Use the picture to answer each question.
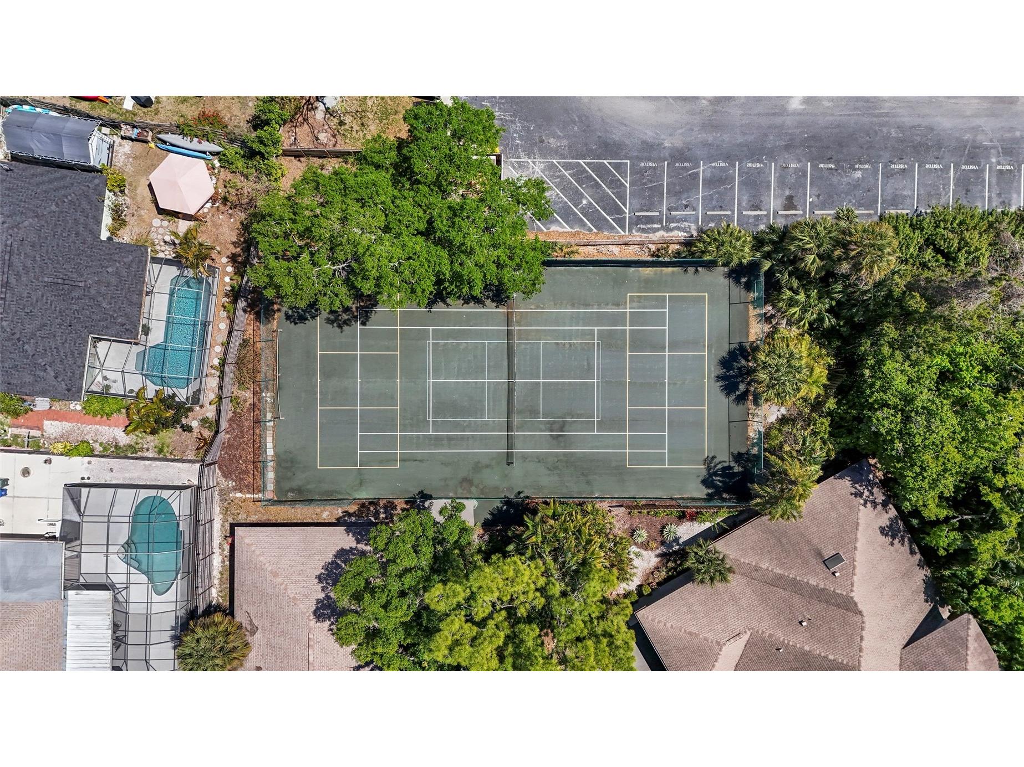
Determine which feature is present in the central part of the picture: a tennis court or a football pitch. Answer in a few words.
tennis court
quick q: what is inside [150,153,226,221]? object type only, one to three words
gazebo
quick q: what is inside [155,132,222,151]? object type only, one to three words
boat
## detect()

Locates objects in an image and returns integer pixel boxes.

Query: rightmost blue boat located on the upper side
[155,144,210,157]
